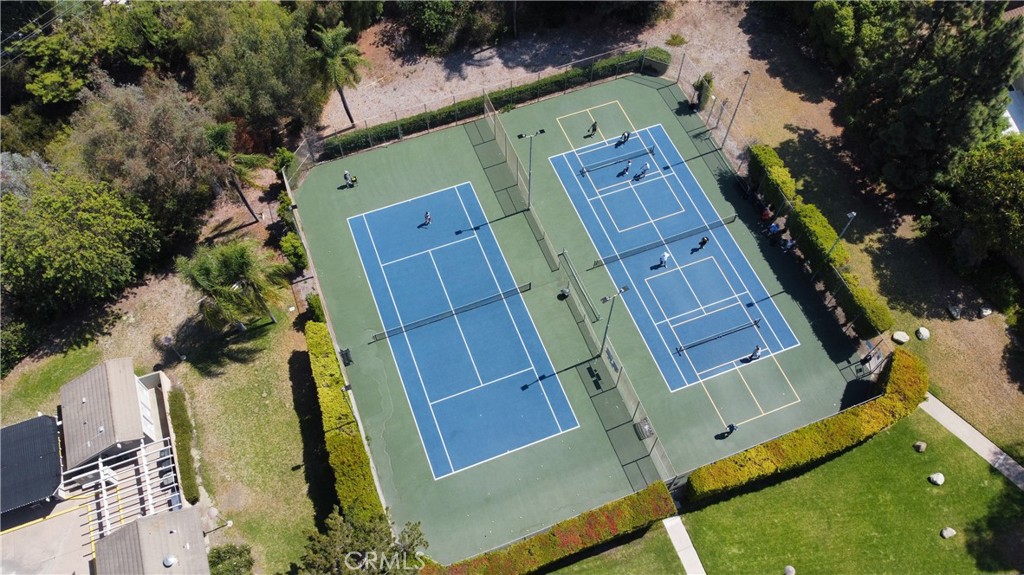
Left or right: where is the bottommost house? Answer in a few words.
left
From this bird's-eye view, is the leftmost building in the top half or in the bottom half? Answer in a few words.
bottom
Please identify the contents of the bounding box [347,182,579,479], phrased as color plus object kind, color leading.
blue tennis court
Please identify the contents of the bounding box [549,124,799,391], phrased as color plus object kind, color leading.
blue tennis court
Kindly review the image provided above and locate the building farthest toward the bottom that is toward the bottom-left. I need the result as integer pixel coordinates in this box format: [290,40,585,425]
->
[95,506,216,575]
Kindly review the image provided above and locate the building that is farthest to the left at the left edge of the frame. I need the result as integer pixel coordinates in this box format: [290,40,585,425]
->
[0,410,70,523]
